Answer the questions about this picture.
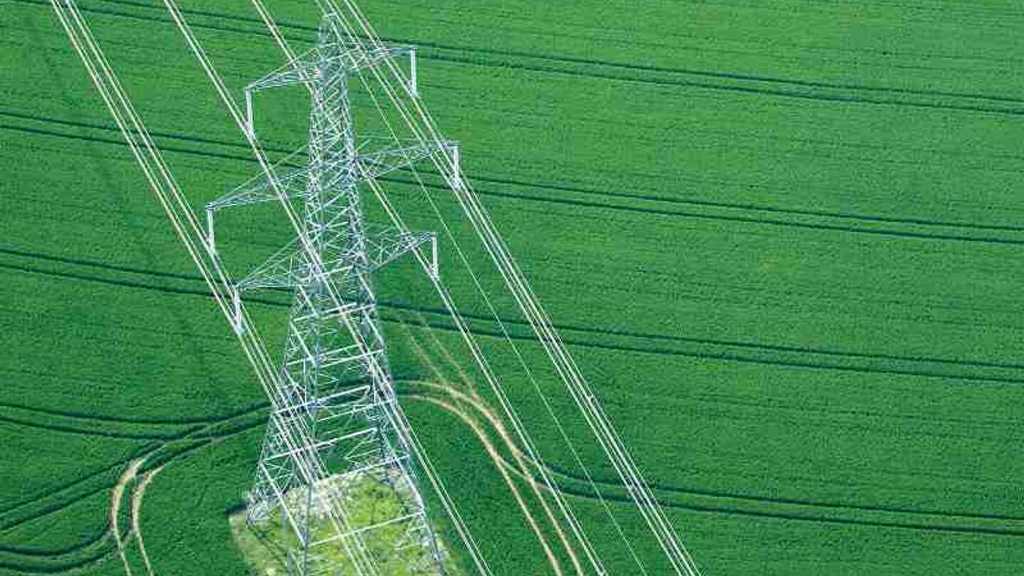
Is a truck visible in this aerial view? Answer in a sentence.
No, I can't see a single truck in this photo.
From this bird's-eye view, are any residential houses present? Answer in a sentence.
No, there appears to be no residential house in this shot.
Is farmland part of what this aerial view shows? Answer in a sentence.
Yes, farmland can be seen from above here.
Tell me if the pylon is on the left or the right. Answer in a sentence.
The pylon appears in the left half of the scene.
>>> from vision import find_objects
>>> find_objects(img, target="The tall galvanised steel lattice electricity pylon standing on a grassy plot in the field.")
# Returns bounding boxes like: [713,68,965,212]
[208,14,458,576]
